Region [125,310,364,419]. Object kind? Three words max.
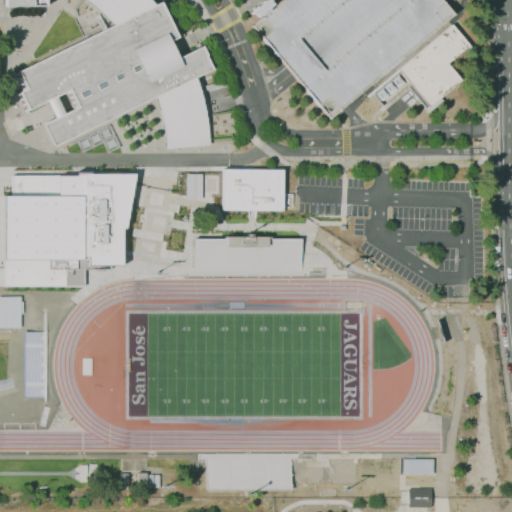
sports field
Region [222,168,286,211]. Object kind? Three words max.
building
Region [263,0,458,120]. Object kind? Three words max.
building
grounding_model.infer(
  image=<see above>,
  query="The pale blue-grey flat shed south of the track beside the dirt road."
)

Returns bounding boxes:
[403,459,436,475]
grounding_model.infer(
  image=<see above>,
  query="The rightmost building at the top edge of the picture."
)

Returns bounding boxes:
[401,25,472,112]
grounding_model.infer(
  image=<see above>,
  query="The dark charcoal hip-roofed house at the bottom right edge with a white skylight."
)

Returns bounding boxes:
[410,488,433,508]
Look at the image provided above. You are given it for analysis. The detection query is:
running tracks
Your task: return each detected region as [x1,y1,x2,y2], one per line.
[0,280,442,451]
